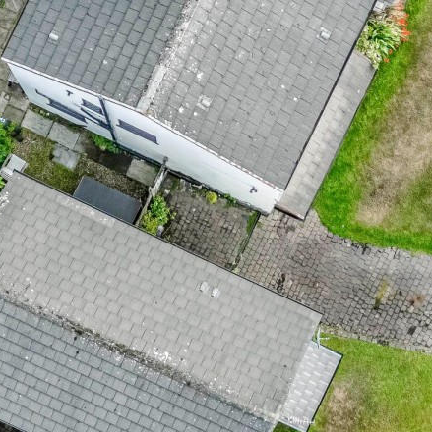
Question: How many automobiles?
0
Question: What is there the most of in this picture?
buildings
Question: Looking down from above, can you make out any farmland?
No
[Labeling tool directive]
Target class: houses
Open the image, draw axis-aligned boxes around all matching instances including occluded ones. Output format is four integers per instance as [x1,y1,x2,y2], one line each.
[0,173,344,432]
[0,0,379,220]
